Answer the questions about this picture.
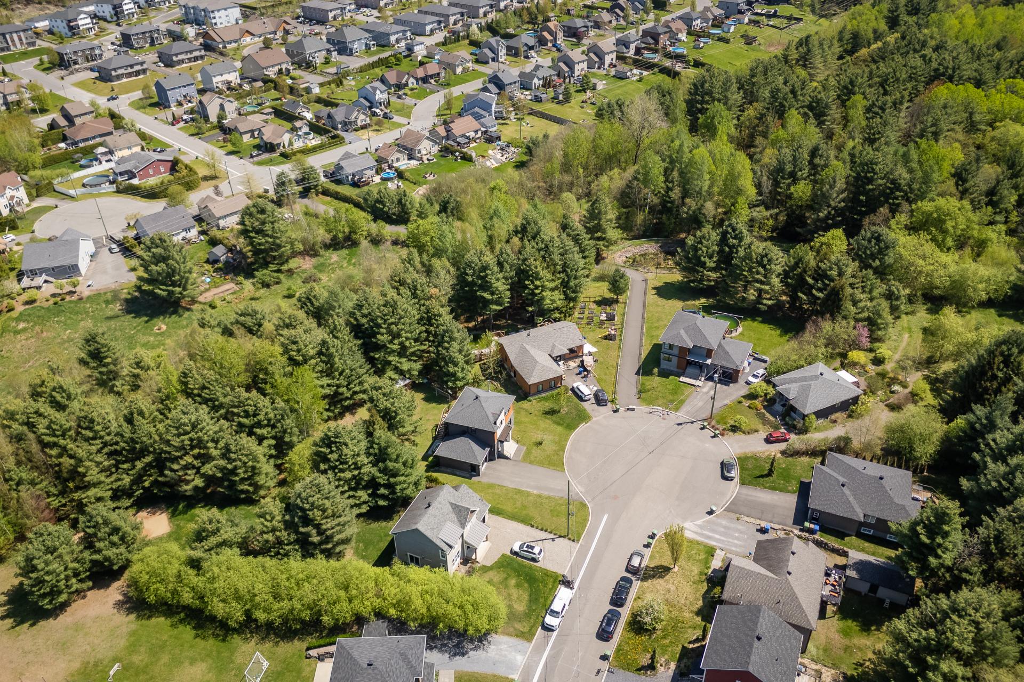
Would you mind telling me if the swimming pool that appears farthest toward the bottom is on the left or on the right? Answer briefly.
right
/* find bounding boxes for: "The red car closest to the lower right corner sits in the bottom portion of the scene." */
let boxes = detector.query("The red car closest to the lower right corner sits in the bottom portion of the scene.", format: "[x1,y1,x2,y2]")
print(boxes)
[766,432,793,446]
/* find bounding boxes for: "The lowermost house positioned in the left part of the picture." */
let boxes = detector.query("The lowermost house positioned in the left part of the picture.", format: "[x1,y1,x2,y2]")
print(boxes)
[330,621,435,682]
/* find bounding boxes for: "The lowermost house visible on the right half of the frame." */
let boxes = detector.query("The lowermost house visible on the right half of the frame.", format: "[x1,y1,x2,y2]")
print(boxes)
[698,605,818,682]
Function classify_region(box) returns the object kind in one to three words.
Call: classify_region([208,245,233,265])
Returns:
shed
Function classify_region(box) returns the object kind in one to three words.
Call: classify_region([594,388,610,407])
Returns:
car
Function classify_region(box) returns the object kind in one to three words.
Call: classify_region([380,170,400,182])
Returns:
swimming pool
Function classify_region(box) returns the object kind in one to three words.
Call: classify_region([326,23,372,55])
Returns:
house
